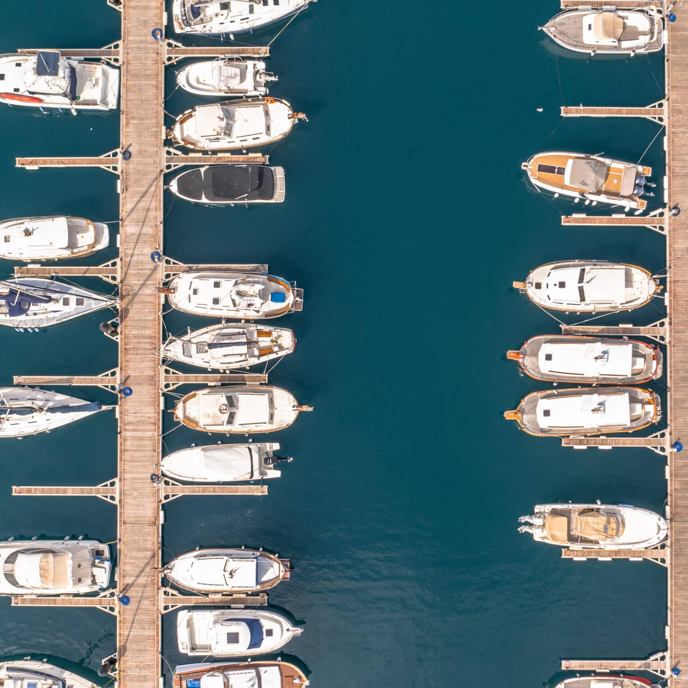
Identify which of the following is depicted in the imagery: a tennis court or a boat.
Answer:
boat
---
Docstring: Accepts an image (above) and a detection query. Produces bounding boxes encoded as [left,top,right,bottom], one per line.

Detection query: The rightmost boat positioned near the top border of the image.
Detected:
[537,6,662,58]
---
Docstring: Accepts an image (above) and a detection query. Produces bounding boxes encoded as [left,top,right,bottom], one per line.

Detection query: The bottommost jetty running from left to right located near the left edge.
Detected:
[10,587,118,614]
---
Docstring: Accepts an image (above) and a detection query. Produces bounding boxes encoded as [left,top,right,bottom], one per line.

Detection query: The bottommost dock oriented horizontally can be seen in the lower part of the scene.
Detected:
[559,648,668,678]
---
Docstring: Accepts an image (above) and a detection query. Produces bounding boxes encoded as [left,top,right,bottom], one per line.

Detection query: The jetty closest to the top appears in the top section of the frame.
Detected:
[559,0,664,18]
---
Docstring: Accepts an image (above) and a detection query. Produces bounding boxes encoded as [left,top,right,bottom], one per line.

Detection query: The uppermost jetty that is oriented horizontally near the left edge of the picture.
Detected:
[16,41,121,68]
